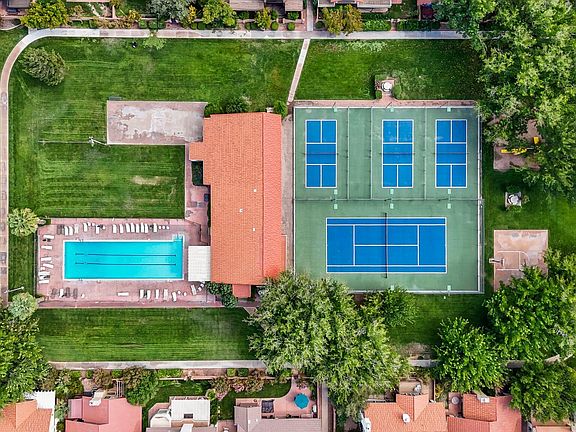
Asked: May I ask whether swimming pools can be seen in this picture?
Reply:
Yes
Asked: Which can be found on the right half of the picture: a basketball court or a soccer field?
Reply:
basketball court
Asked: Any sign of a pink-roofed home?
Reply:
Yes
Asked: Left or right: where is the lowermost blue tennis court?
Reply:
right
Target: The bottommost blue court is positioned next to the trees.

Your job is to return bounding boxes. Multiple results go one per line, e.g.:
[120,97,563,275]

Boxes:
[326,213,447,278]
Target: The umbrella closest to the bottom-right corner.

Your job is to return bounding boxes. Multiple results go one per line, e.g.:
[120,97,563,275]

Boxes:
[294,394,309,410]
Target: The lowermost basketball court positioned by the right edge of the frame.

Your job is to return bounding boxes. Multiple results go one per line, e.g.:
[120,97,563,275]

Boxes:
[494,230,548,299]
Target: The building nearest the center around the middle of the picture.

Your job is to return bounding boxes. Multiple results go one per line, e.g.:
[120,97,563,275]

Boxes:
[189,107,287,299]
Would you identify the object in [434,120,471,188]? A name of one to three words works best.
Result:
sports court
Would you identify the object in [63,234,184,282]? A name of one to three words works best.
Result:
swimming pool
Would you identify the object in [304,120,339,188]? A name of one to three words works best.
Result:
sports court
